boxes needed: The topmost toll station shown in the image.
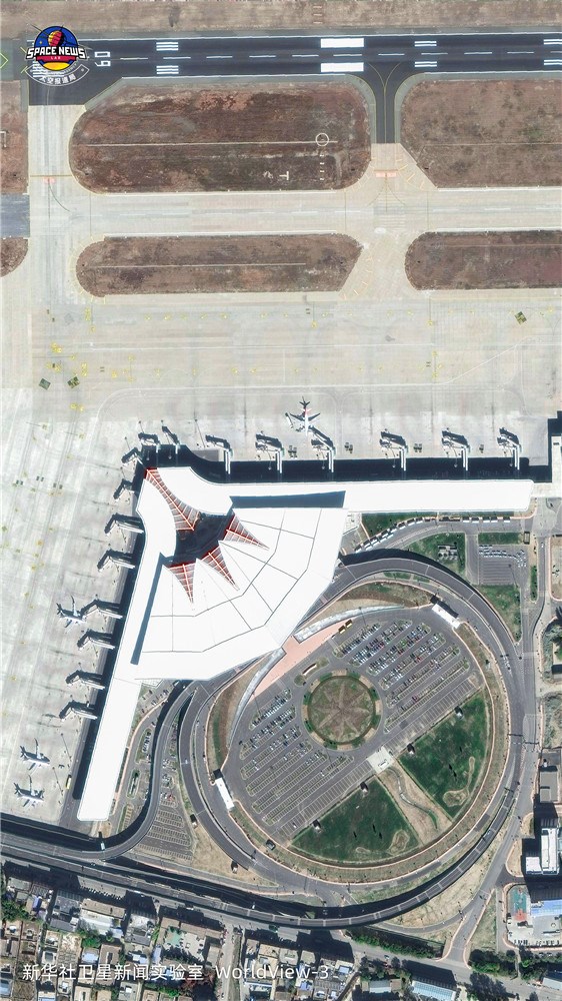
[433,603,460,628]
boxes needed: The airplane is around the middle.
[292,407,321,436]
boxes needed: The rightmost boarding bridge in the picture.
[497,438,518,477]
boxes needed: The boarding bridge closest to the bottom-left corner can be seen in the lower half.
[61,703,102,721]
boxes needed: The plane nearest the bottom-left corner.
[15,783,44,810]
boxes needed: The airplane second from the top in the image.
[58,603,85,629]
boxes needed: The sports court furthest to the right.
[508,887,530,922]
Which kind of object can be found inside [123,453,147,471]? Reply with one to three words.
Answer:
jet bridge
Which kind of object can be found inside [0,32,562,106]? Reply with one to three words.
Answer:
runway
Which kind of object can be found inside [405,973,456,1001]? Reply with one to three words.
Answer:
building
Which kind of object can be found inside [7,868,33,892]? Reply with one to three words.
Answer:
house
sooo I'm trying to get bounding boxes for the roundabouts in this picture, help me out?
[300,669,382,751]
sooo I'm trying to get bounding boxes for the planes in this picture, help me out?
[58,603,85,629]
[292,407,321,436]
[21,746,50,774]
[15,783,44,810]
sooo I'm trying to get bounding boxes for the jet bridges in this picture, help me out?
[113,482,141,500]
[141,439,160,464]
[78,631,119,651]
[380,440,406,477]
[497,438,518,477]
[308,427,334,479]
[442,440,467,477]
[164,431,179,464]
[206,441,231,479]
[66,671,109,691]
[61,703,102,721]
[97,552,139,571]
[106,515,145,536]
[82,600,127,621]
[123,453,147,471]
[256,442,281,479]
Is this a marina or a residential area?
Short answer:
residential area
